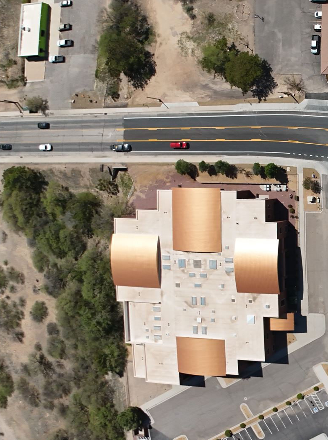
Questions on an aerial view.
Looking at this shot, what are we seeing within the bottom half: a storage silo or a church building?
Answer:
church building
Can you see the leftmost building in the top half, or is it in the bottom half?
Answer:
top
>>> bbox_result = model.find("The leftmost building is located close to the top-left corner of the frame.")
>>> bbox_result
[18,2,52,58]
